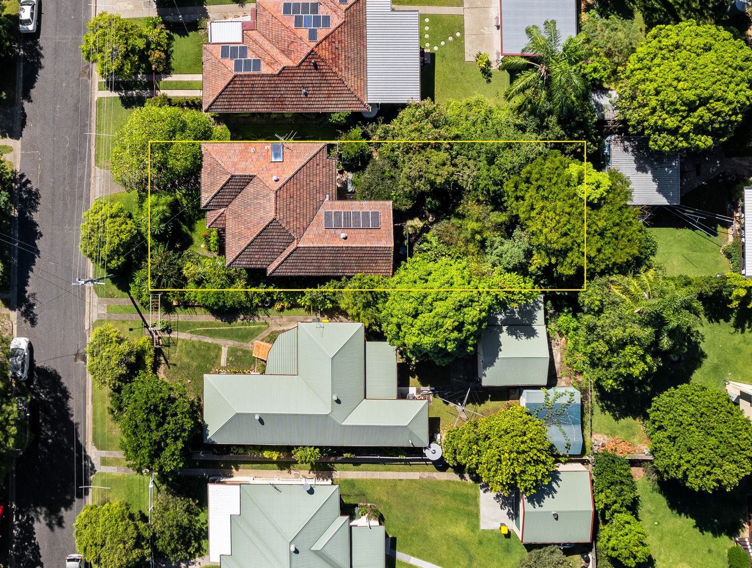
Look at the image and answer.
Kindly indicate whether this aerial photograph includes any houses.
Yes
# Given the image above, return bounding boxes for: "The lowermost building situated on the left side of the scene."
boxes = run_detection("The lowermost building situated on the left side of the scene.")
[207,475,386,568]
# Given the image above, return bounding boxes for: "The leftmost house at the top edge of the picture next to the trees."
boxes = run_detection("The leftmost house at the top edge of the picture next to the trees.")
[201,0,421,113]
